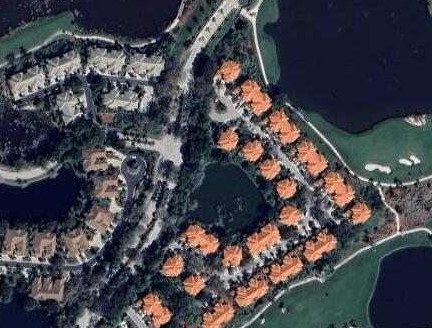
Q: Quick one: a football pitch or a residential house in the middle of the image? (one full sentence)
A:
It is a residential house that can be seen in the middle of the image.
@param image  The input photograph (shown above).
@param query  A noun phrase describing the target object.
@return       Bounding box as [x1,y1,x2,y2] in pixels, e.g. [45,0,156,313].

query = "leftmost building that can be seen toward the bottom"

[2,230,26,257]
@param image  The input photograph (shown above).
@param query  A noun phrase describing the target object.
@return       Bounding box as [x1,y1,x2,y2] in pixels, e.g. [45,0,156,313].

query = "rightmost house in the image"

[348,203,372,226]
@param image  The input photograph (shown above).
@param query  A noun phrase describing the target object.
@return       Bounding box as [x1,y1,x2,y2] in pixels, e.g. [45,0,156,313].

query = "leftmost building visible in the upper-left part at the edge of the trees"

[7,69,45,96]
